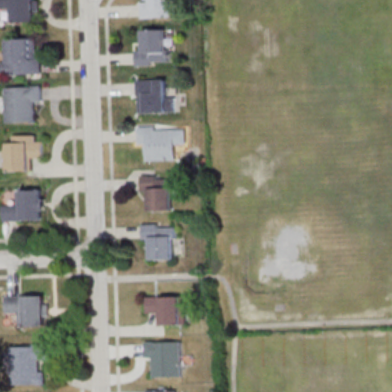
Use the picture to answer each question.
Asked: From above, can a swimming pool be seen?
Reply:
No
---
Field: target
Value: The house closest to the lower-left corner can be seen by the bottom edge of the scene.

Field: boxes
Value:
[9,347,42,386]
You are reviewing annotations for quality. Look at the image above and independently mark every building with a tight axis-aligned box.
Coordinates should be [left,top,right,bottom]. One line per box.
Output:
[3,296,46,326]
[136,79,176,112]
[9,347,42,386]
[141,224,176,261]
[1,134,44,172]
[3,86,42,122]
[134,29,170,65]
[144,296,184,325]
[136,126,186,162]
[140,176,172,210]
[138,0,170,19]
[0,190,42,221]
[0,0,37,20]
[0,38,40,74]
[144,341,184,378]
